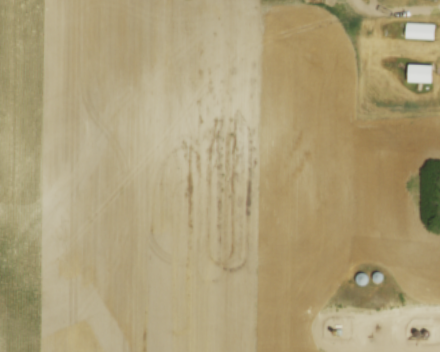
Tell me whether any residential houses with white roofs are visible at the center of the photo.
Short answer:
No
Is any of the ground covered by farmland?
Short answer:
Yes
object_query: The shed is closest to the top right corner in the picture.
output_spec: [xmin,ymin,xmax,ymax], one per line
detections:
[405,23,435,40]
